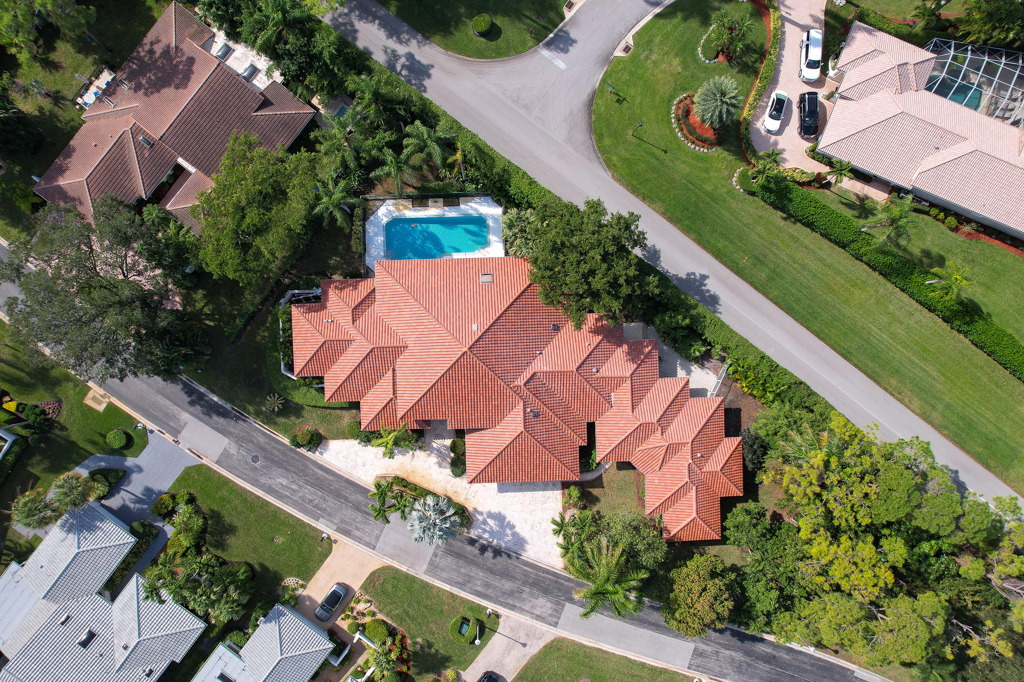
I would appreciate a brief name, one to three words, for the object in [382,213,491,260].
swimming pool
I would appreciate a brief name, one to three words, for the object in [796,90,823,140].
car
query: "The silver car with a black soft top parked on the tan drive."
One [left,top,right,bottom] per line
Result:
[313,577,350,626]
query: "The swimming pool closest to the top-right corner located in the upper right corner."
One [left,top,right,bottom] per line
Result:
[926,71,985,108]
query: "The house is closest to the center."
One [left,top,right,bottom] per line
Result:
[290,256,745,543]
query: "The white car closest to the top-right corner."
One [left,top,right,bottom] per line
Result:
[796,27,825,84]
